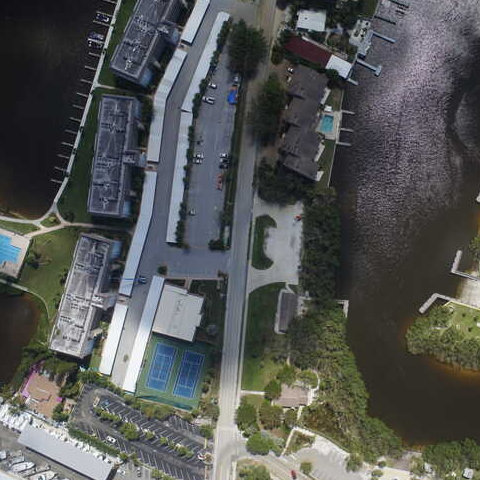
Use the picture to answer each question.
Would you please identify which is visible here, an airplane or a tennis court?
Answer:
tennis court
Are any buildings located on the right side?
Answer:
Yes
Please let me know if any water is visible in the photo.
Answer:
Yes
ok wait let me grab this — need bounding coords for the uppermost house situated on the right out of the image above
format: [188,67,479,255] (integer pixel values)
[298,9,327,34]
